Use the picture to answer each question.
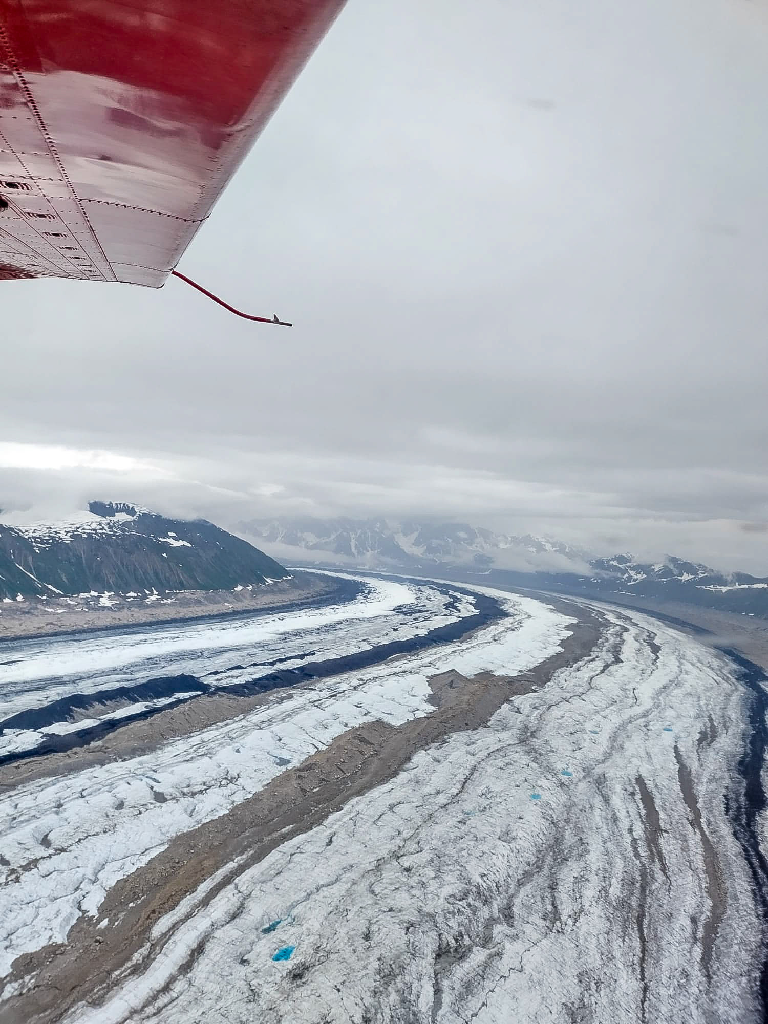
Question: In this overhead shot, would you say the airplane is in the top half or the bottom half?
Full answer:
The top half of the photo is where the airplane is.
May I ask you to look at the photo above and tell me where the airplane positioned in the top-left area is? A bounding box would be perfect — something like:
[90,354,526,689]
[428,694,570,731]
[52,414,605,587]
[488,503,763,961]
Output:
[0,0,349,326]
